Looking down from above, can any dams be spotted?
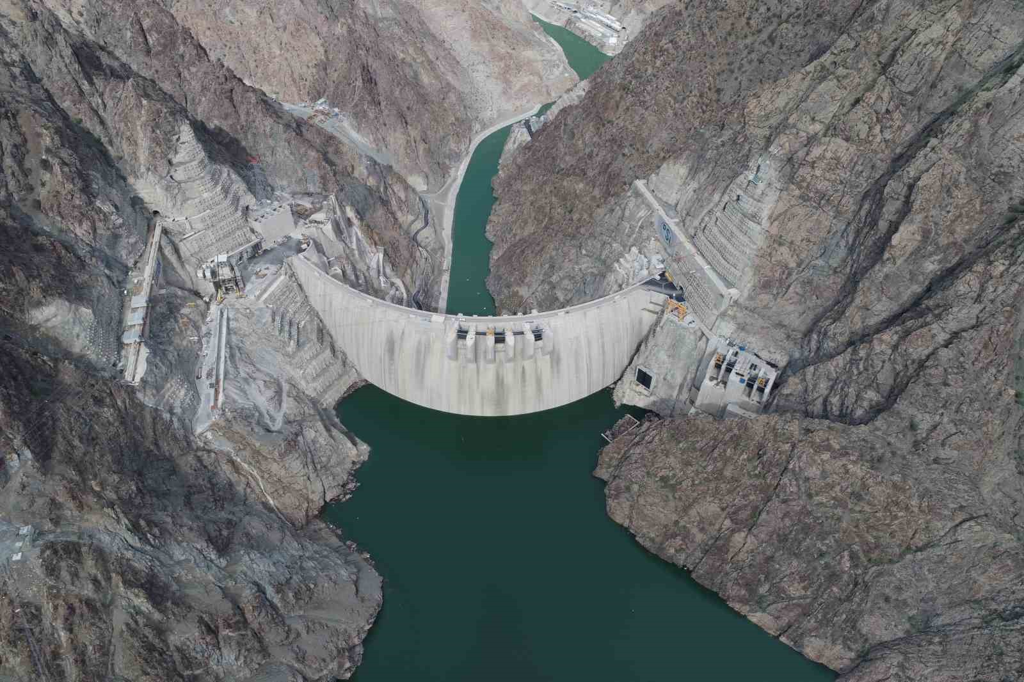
Yes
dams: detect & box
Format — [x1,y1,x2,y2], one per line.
[282,246,666,416]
